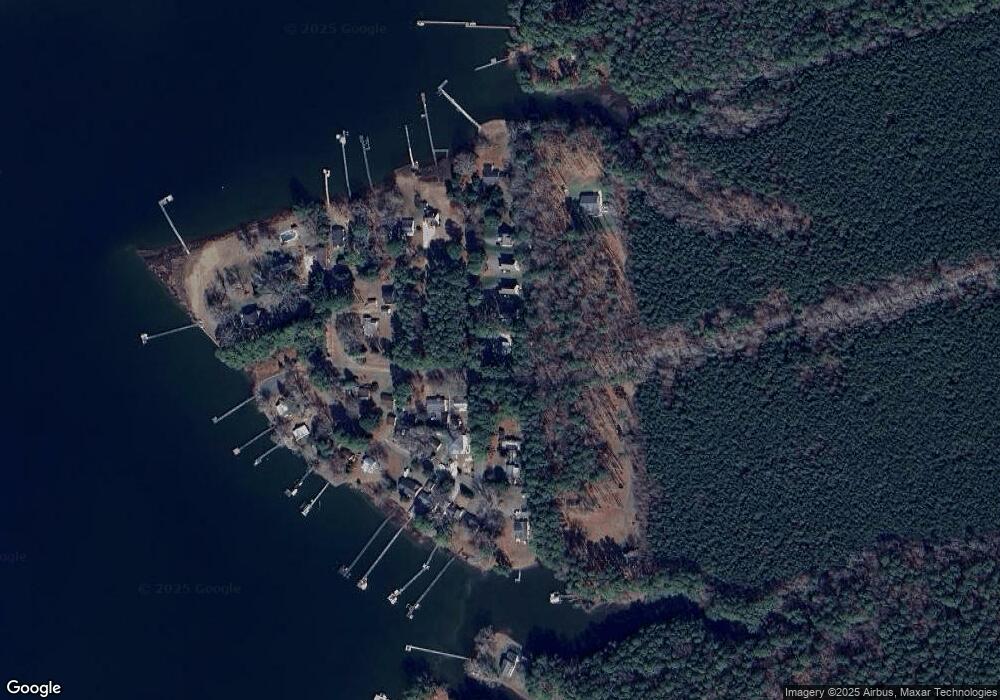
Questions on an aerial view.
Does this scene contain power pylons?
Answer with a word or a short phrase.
No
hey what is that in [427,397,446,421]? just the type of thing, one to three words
house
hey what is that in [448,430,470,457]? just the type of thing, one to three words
house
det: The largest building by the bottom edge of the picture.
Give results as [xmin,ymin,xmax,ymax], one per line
[500,651,521,679]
